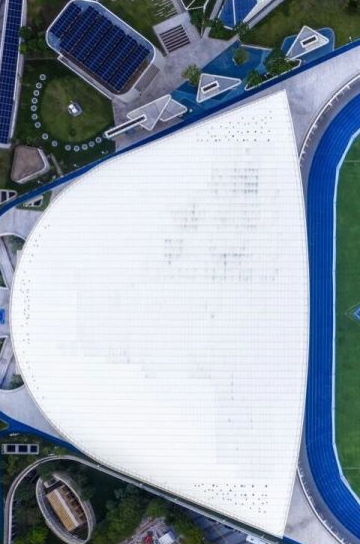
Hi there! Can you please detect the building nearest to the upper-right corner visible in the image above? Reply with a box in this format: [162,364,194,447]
[287,26,330,58]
